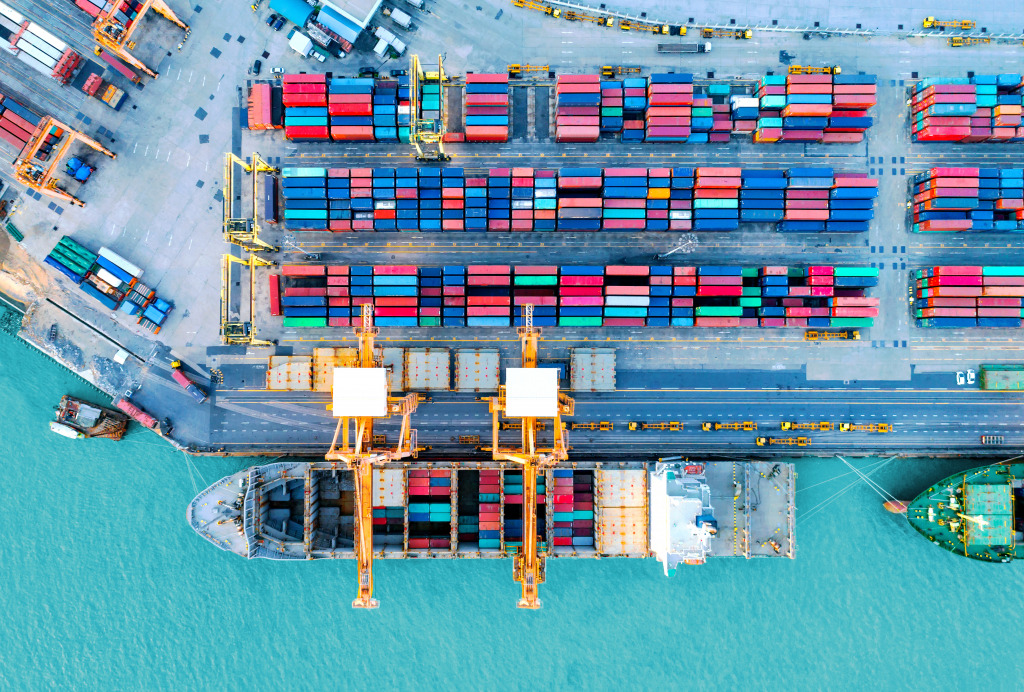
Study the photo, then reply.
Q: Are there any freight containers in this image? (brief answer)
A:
Yes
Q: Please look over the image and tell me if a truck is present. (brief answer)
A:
Yes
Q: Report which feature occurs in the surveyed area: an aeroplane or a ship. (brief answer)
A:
ship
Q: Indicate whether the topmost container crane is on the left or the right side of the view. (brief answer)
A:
left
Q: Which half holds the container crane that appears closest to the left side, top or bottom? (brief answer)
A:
top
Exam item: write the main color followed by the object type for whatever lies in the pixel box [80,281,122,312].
blue shipping container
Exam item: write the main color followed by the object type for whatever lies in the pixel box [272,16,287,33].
blue car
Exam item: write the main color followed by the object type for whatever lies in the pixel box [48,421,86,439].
white boat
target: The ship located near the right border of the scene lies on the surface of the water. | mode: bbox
[884,458,1024,564]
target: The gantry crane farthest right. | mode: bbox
[481,303,584,607]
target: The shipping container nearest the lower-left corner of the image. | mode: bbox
[118,399,160,428]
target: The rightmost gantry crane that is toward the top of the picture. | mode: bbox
[406,51,453,160]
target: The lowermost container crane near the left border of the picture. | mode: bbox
[6,115,121,209]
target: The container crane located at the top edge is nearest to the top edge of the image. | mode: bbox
[88,0,194,79]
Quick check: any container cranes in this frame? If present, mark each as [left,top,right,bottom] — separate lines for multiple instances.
[406,51,453,160]
[6,115,121,209]
[220,256,280,344]
[88,0,194,79]
[326,303,434,607]
[481,303,584,607]
[222,151,283,252]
